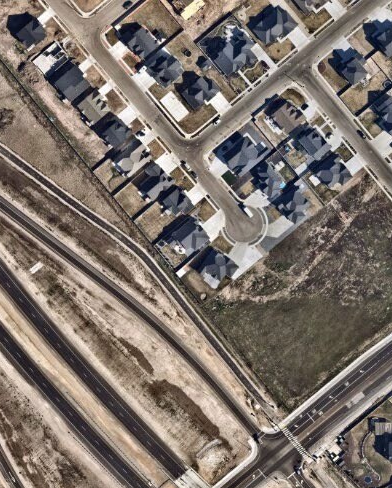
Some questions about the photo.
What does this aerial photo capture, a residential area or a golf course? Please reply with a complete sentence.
This looks like a residential area.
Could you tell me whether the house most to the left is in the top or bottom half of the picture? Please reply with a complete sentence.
Seen from above, the house most to the left lies in the top half of the view.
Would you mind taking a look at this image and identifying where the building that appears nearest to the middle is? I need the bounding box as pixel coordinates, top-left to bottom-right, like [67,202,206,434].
[166,216,212,257]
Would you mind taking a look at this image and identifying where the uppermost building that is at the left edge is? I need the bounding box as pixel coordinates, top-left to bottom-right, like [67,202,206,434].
[11,14,43,49]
